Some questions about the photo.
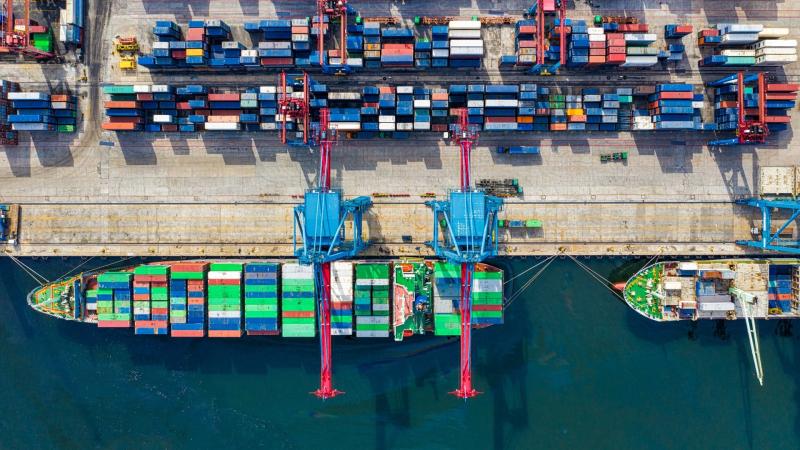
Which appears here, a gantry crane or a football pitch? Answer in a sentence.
It is a gantry crane that can be seen here.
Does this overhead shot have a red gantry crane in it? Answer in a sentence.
Yes, there's a red gantry crane here.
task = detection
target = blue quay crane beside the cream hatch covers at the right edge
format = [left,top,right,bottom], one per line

[738,197,800,249]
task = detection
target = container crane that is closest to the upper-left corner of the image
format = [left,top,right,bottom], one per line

[5,0,67,60]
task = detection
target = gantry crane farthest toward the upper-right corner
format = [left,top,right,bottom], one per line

[709,70,769,150]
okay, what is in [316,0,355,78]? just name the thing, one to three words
container crane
